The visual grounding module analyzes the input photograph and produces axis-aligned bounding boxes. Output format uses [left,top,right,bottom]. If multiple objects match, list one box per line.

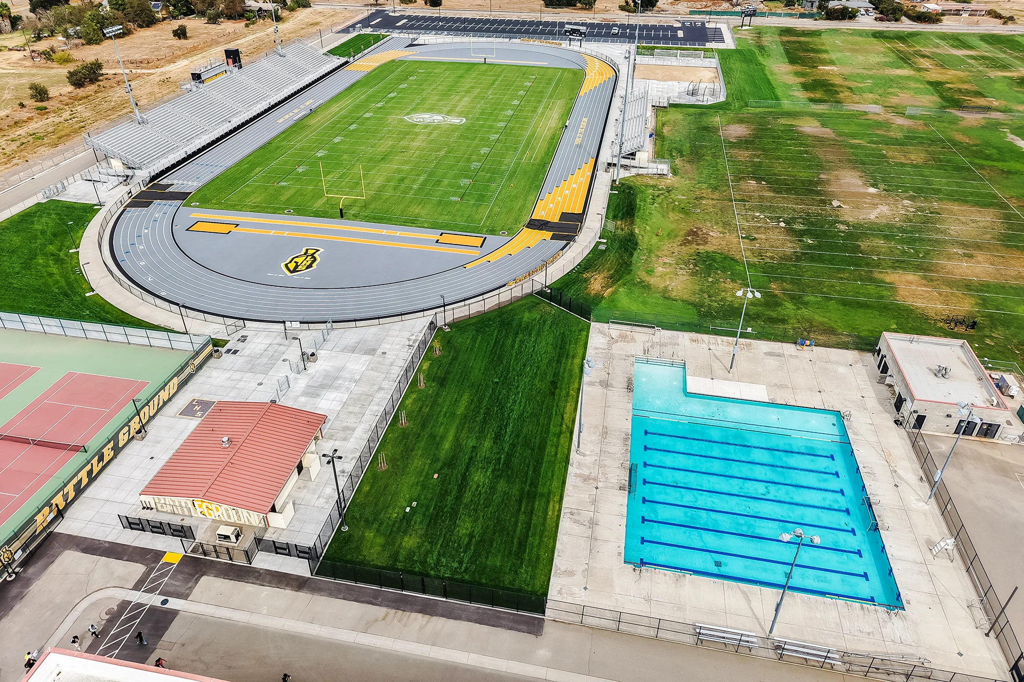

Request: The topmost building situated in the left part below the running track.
[139,399,327,533]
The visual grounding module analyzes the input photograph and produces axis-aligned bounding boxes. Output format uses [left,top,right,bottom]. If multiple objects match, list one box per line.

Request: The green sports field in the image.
[182,59,583,237]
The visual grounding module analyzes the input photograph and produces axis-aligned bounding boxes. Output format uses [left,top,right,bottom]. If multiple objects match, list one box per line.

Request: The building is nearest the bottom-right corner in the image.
[875,332,1015,441]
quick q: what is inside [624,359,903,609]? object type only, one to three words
swimming pool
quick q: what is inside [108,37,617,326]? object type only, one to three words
running track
